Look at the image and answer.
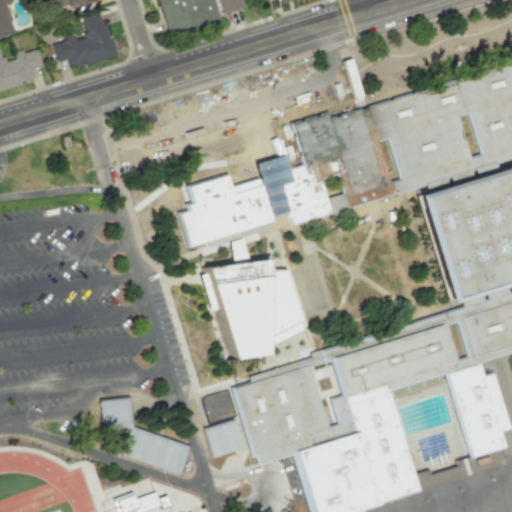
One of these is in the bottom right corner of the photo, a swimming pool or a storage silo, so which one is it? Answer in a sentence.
There is a swimming pool in the bottom right corner of the photo.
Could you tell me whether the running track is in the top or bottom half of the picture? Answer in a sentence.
You can find the running track in the bottom half.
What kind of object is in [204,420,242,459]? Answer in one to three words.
shed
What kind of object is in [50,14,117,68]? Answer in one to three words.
house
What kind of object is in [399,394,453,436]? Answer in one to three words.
swimming pool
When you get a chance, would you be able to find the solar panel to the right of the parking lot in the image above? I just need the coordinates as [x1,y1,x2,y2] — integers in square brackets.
[420,434,449,460]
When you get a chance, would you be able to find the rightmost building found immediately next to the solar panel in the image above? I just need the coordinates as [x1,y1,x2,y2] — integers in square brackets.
[444,365,512,460]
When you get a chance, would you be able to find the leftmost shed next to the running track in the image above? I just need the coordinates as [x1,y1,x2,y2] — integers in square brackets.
[100,396,190,475]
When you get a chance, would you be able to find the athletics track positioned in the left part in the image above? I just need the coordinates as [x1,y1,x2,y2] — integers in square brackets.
[0,454,96,512]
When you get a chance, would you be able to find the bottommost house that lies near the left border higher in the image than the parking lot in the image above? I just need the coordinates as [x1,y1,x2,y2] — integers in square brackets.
[0,44,47,94]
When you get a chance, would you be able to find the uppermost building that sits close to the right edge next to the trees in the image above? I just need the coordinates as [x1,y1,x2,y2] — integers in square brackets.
[366,66,512,194]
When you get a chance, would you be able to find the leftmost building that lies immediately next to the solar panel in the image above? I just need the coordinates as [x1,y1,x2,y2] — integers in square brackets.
[292,386,422,512]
